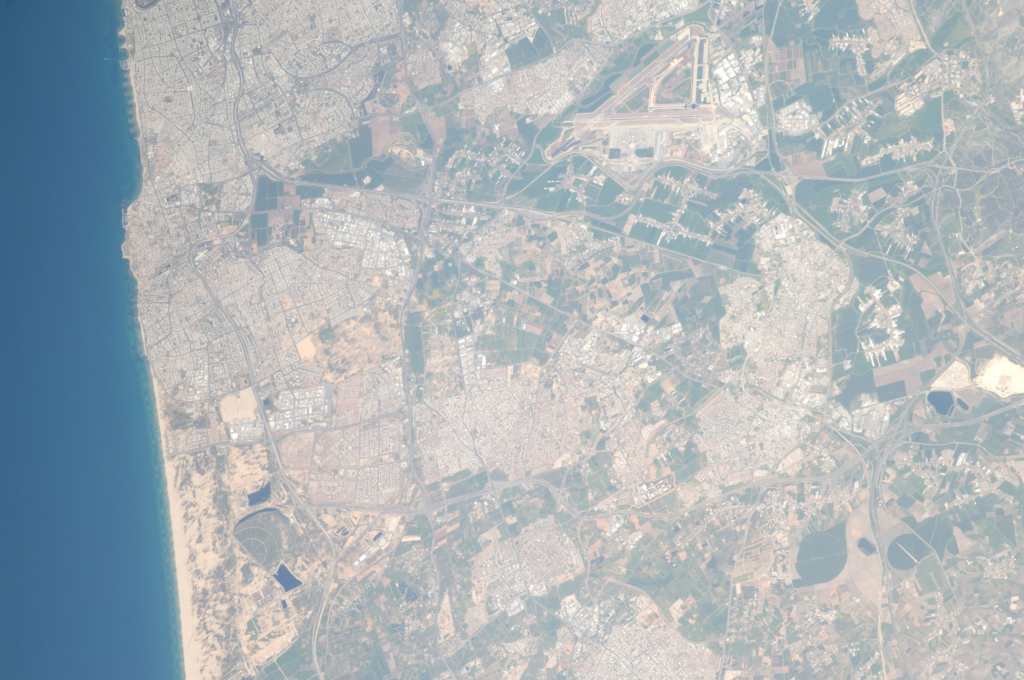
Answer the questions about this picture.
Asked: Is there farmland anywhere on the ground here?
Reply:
Yes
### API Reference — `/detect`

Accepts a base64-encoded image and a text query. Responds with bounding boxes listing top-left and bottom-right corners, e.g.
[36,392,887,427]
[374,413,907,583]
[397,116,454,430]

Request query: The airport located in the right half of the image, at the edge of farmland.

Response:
[546,26,756,170]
